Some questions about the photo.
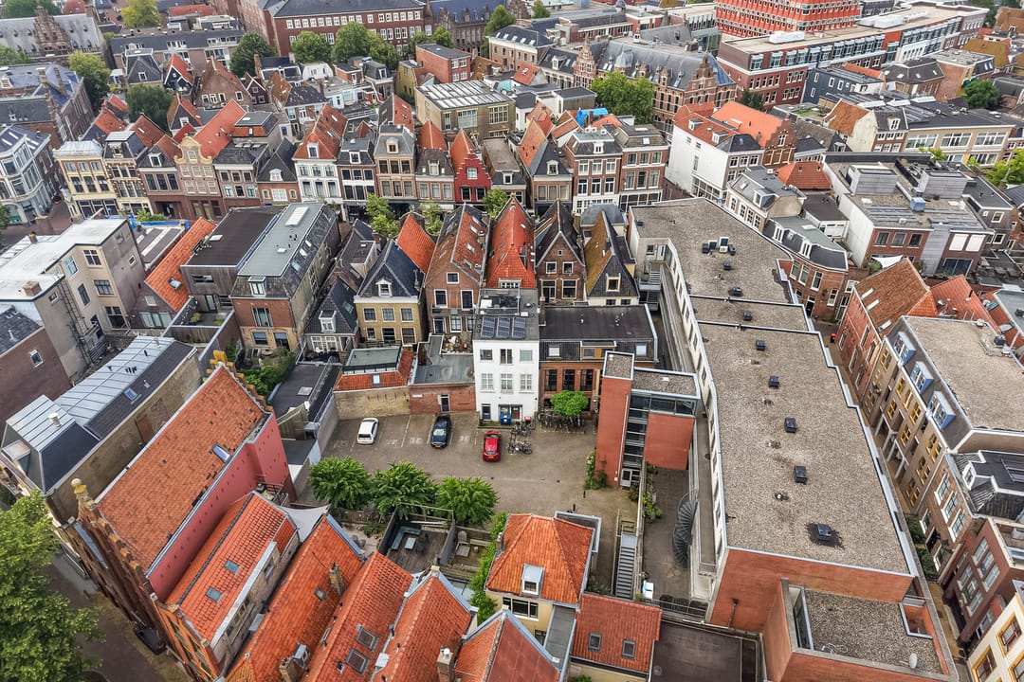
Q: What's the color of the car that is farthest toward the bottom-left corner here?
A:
white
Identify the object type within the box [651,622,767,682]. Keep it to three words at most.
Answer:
building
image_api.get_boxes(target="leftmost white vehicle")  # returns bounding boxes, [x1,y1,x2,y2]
[351,418,379,450]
